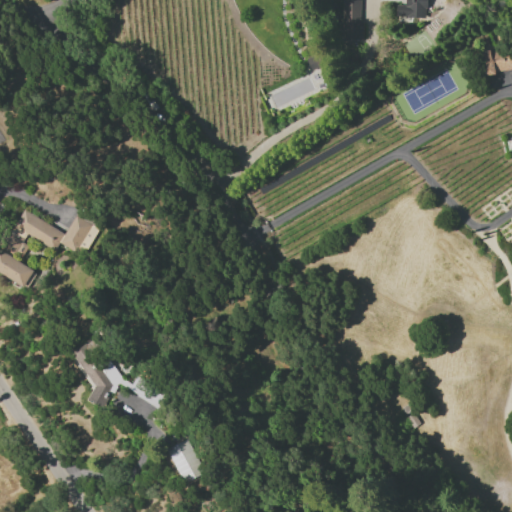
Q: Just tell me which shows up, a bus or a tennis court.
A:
tennis court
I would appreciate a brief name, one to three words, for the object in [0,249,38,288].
house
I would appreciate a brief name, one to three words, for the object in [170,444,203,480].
house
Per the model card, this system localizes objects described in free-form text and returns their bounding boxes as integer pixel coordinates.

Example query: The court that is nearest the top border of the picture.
[406,30,438,53]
